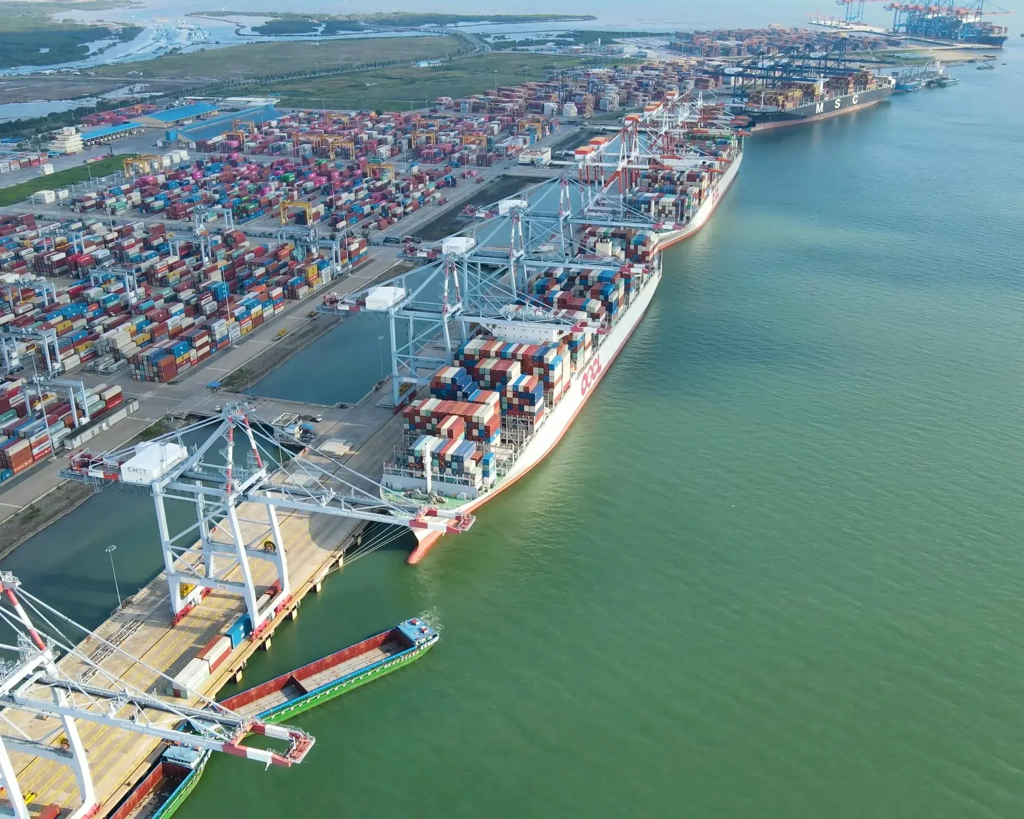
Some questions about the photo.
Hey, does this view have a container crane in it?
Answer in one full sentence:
Yes, the image includes a container crane.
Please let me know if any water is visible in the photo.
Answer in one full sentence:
Yes, some water is visible.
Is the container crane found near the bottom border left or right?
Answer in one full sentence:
It is on the left.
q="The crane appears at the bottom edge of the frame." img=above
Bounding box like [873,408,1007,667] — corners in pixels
[0,580,317,819]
